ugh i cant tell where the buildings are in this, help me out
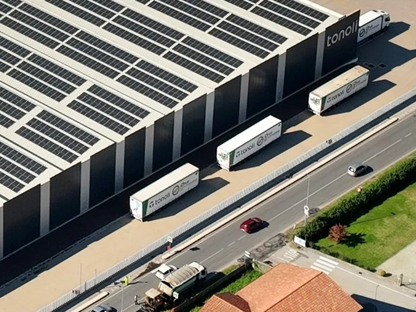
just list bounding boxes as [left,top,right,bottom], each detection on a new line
[0,0,360,266]
[202,267,367,312]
